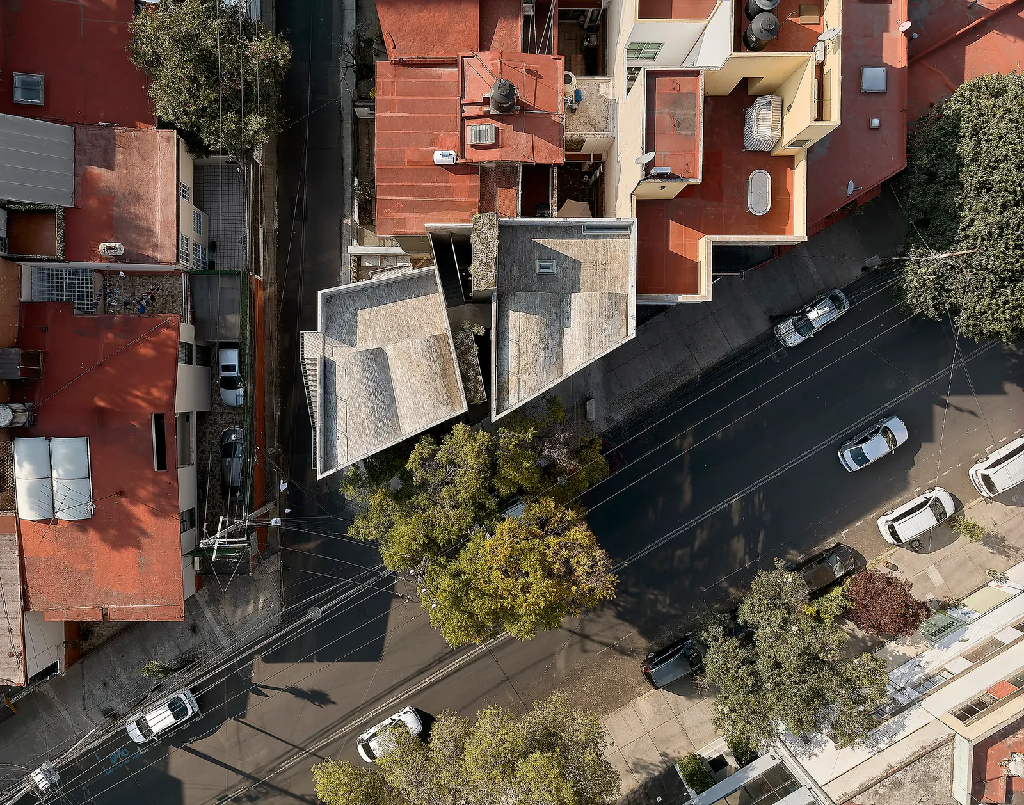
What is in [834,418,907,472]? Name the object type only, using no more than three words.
car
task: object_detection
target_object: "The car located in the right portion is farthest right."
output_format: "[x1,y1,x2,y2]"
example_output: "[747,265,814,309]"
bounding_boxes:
[967,435,1024,495]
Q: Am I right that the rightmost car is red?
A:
No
